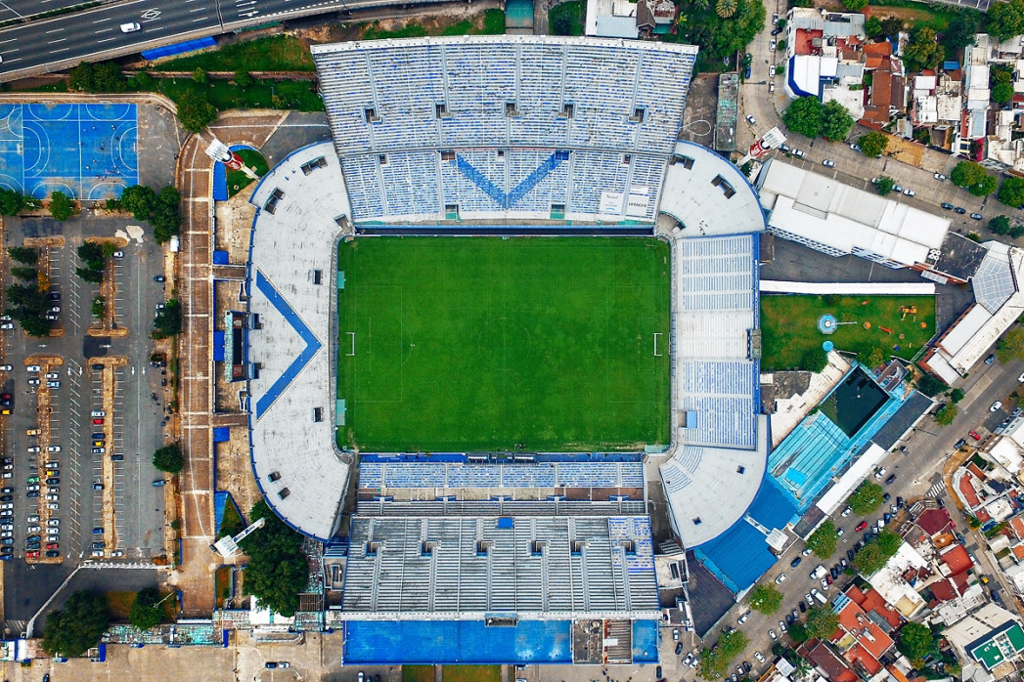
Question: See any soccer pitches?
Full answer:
Yes, the picture does show a soccer pitch.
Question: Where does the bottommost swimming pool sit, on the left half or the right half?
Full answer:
The bottommost swimming pool appears in the right half of the scene.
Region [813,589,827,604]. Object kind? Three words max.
vehicle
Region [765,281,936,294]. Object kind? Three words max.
building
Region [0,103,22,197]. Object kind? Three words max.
sports court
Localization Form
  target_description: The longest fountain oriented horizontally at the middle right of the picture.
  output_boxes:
[819,314,859,333]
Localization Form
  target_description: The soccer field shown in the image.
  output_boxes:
[337,237,671,454]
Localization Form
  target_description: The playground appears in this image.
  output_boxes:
[765,294,936,375]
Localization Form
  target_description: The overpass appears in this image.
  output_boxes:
[0,0,418,82]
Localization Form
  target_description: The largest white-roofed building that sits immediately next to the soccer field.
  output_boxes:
[755,159,951,268]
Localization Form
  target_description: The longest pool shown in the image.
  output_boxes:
[768,362,916,510]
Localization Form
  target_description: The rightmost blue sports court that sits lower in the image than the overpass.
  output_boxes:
[22,103,139,199]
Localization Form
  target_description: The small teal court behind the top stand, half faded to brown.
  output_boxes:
[505,0,534,36]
